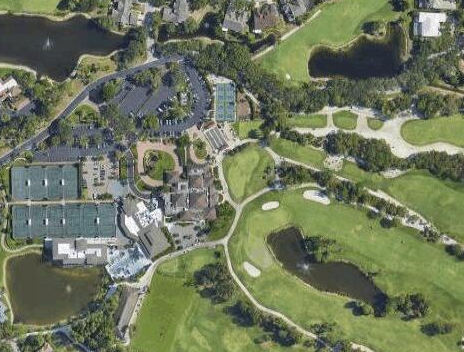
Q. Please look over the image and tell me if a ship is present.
No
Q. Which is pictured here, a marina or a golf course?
golf course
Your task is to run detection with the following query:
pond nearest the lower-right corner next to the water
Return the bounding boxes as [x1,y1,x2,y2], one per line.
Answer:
[266,227,387,310]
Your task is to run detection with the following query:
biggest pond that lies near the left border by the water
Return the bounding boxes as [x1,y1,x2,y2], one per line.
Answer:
[5,252,106,326]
